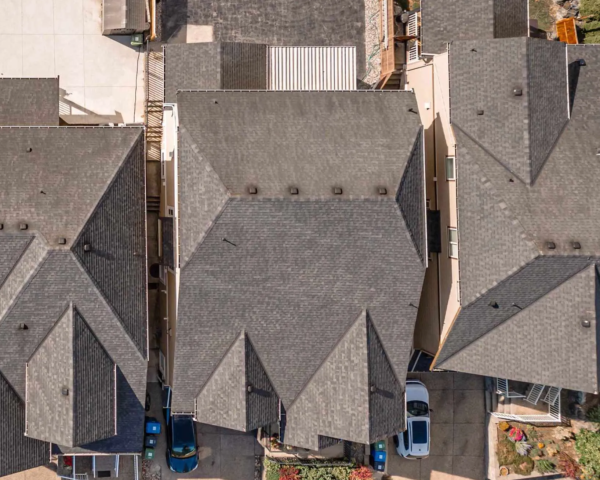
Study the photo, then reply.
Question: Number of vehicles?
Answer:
2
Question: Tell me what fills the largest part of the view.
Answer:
buildings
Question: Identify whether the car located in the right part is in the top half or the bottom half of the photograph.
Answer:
bottom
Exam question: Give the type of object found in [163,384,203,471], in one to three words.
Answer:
car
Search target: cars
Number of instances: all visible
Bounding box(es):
[392,379,435,461]
[163,384,203,471]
